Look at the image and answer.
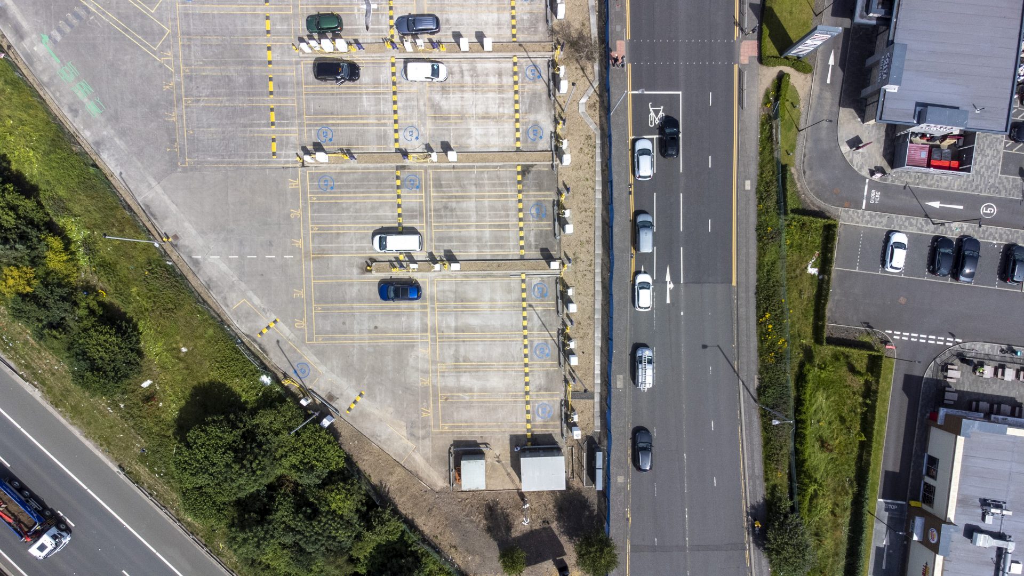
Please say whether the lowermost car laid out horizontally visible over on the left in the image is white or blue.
blue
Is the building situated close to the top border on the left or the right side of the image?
right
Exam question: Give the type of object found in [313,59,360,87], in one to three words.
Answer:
car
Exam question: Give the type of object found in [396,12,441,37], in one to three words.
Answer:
car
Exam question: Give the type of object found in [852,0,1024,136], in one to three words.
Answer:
building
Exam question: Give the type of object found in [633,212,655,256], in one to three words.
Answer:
vehicle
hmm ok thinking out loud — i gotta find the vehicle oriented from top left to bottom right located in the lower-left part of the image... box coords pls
[0,475,73,558]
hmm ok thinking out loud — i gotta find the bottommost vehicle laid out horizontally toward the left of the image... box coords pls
[379,281,422,302]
